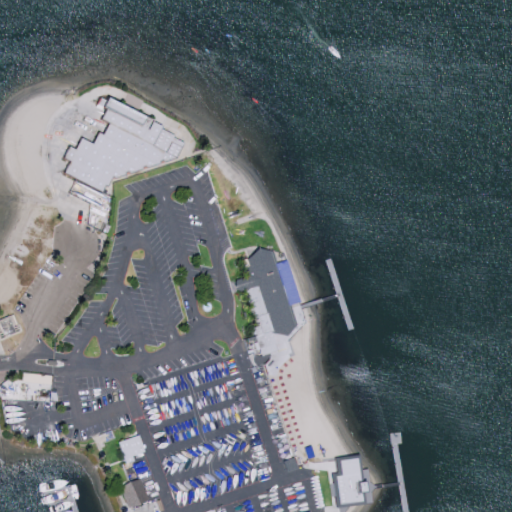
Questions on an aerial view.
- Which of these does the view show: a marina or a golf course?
marina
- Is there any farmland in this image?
No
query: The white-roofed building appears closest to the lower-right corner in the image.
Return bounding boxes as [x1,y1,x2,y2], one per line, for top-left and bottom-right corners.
[332,453,370,508]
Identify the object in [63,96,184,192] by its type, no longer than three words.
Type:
building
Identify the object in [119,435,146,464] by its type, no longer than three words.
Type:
house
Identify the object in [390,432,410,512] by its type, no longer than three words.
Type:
pier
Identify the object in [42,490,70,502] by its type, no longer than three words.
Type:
boat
